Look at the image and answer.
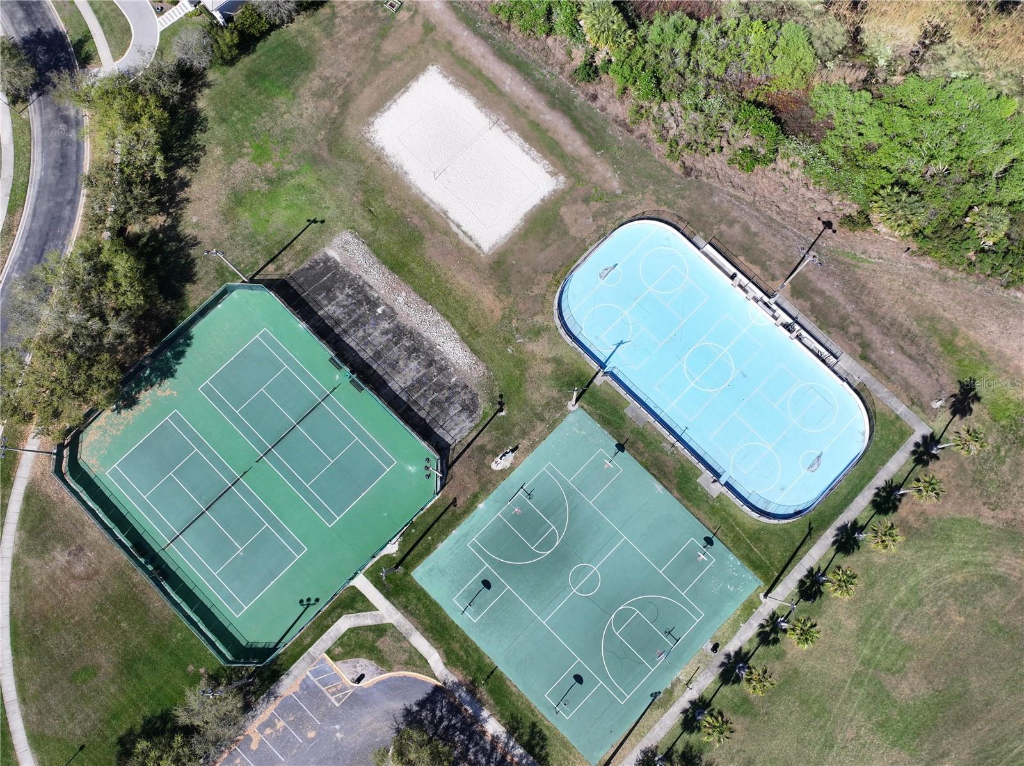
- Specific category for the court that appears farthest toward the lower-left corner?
tennis court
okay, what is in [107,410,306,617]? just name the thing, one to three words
tennis court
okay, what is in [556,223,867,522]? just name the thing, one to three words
sports court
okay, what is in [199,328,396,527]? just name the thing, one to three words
tennis court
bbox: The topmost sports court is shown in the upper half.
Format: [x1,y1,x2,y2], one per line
[364,64,564,255]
